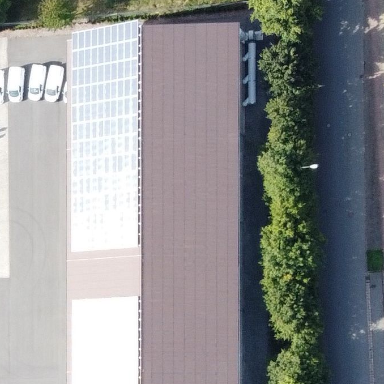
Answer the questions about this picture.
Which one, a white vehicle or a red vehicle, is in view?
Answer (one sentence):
It is a white vehicle that can be seen here.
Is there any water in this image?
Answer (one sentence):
No, water can't be seen anywhere here.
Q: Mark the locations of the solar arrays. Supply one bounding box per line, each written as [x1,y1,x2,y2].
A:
[72,296,137,384]
[71,20,137,252]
